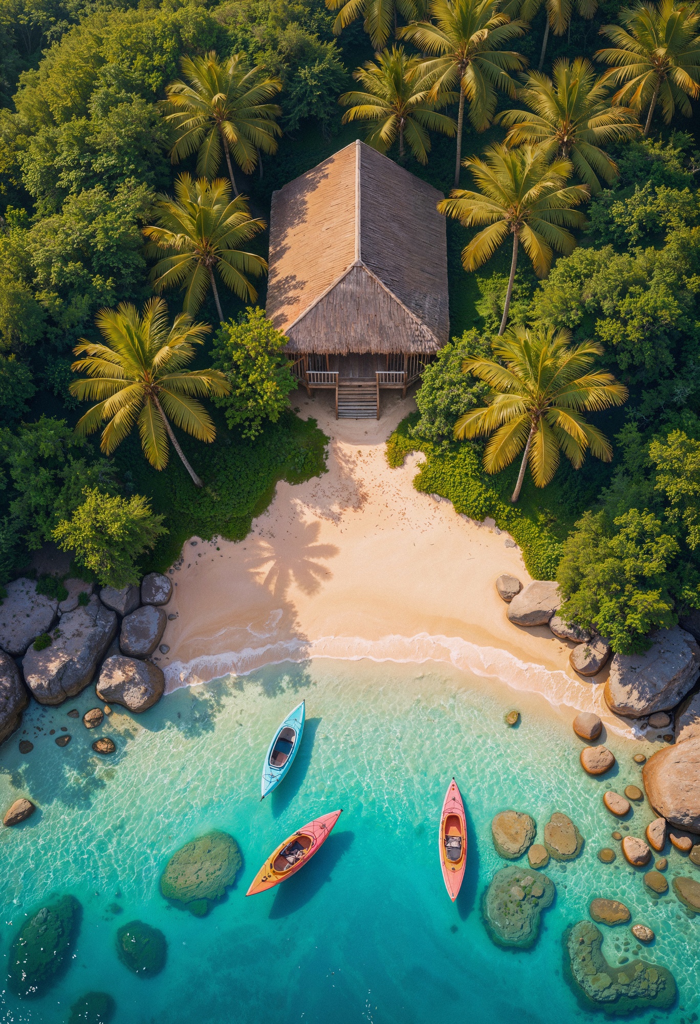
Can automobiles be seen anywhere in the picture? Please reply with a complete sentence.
No, there appears to be no automobile in this shot.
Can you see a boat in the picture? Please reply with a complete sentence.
Yes, the picture does show a boat.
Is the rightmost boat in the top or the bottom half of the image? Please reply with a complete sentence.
The rightmost boat is in the bottom half of the image.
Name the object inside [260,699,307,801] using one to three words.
boat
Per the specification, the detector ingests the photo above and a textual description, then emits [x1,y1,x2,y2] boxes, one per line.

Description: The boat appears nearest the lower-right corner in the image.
[438,777,468,904]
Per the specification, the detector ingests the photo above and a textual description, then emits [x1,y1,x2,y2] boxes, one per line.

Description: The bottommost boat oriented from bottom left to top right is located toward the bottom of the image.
[245,809,343,897]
